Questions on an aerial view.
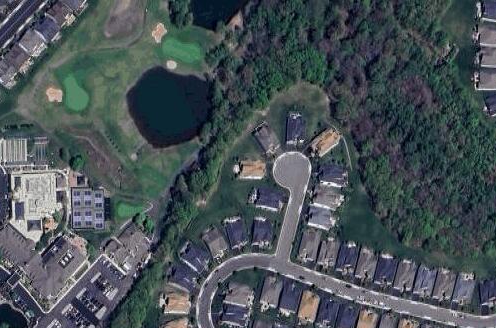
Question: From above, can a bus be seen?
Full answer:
No, no bus is visible in the scene.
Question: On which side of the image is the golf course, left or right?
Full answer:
It is on the left.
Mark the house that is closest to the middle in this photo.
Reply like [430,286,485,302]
[237,159,266,180]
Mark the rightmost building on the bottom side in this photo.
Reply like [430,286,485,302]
[479,276,495,307]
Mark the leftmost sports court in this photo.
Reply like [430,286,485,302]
[4,138,27,162]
